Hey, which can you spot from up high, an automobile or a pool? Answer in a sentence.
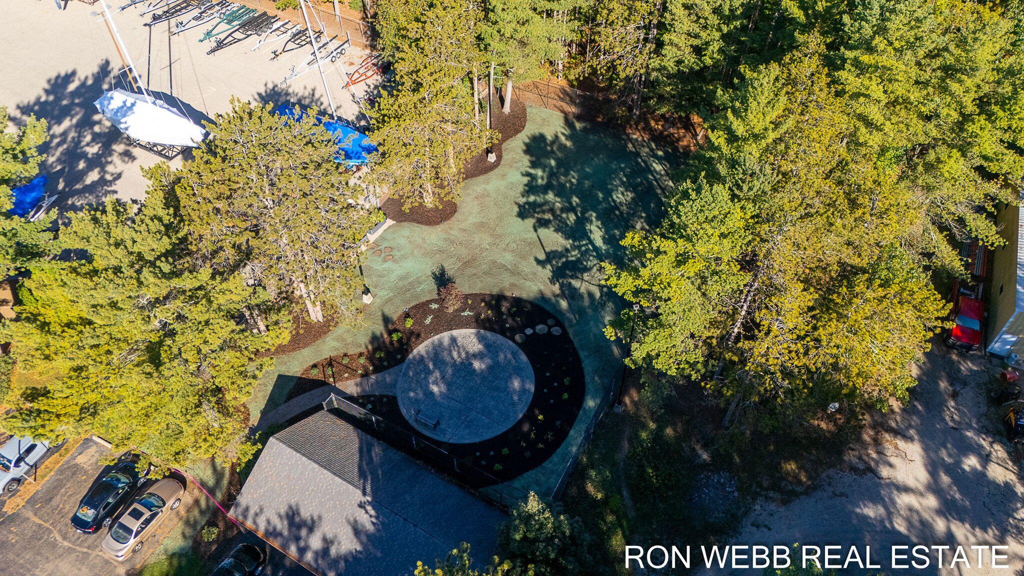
Of the two, only an automobile appears.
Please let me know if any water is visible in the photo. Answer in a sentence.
No, the picture contains no water.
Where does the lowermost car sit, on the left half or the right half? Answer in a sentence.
You can find the lowermost car on the left side of the picture.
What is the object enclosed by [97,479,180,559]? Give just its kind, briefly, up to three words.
car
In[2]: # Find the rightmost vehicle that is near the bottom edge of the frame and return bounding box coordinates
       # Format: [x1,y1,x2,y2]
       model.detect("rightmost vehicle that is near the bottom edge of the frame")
[200,530,266,576]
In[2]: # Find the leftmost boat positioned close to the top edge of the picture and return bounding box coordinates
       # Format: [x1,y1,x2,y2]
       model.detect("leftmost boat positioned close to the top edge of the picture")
[81,0,214,166]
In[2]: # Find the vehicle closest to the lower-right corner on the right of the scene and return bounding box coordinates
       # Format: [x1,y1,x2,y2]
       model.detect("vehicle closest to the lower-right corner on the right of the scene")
[980,407,1024,454]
